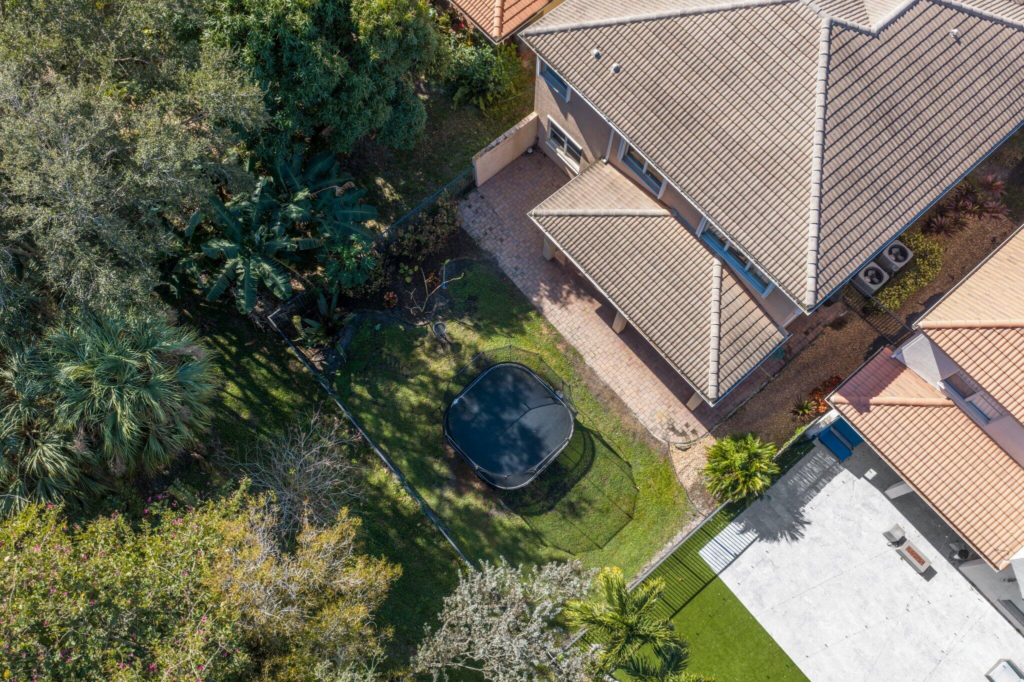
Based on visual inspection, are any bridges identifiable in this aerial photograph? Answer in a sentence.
No, I find no bridge anywhere in the image.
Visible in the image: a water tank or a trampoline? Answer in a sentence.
Visible in the photo is a trampoline.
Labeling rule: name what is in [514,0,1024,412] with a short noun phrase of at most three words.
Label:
house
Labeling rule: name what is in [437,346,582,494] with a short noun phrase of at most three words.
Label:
trampoline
